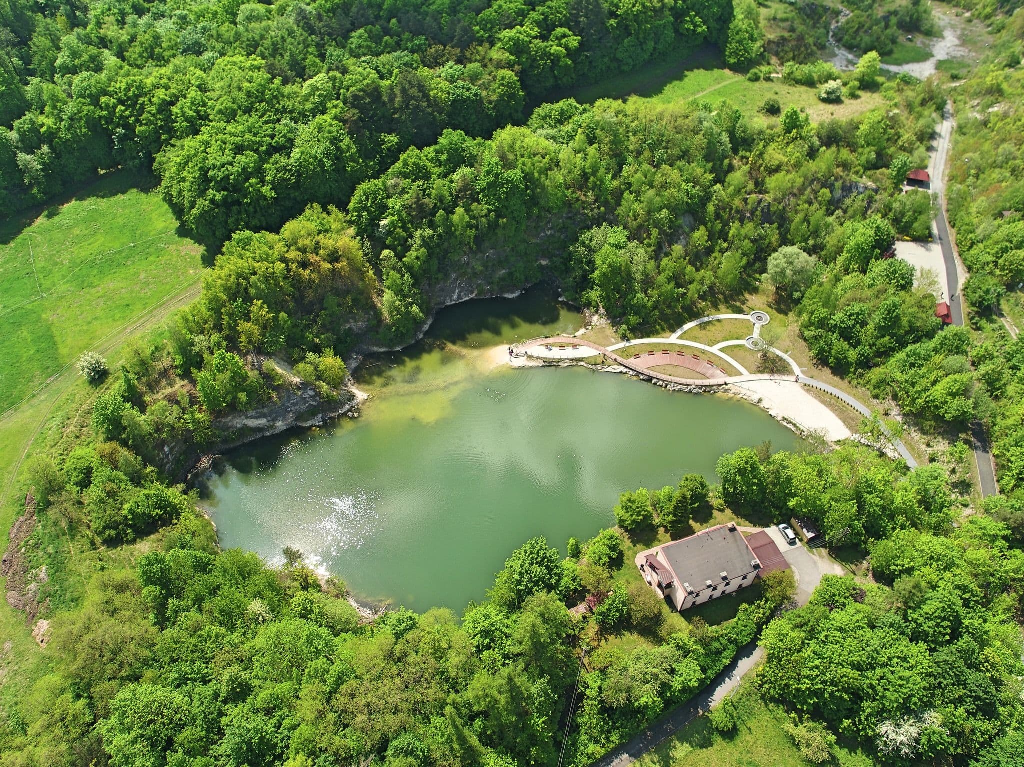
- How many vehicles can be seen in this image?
1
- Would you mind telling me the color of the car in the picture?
white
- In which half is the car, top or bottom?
bottom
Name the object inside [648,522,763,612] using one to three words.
house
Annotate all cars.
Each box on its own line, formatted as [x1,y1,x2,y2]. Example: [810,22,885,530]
[777,524,799,546]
